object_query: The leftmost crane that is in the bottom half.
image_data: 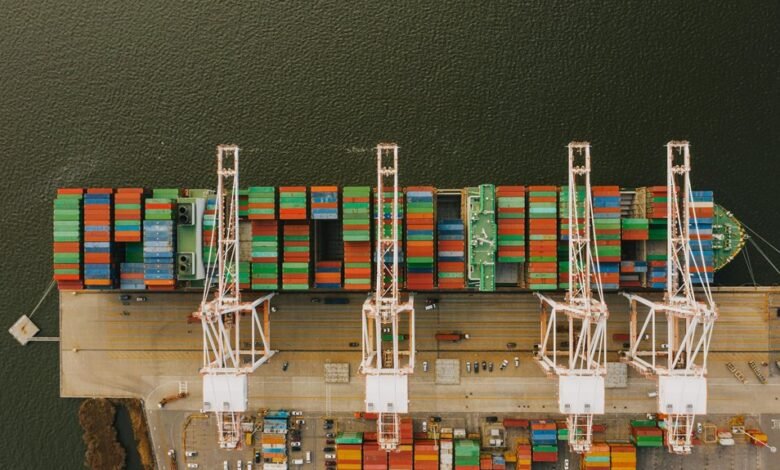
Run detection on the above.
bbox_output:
[195,142,284,450]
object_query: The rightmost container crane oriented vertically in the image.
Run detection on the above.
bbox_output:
[609,142,721,450]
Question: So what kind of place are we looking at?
port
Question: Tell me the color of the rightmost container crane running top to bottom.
white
